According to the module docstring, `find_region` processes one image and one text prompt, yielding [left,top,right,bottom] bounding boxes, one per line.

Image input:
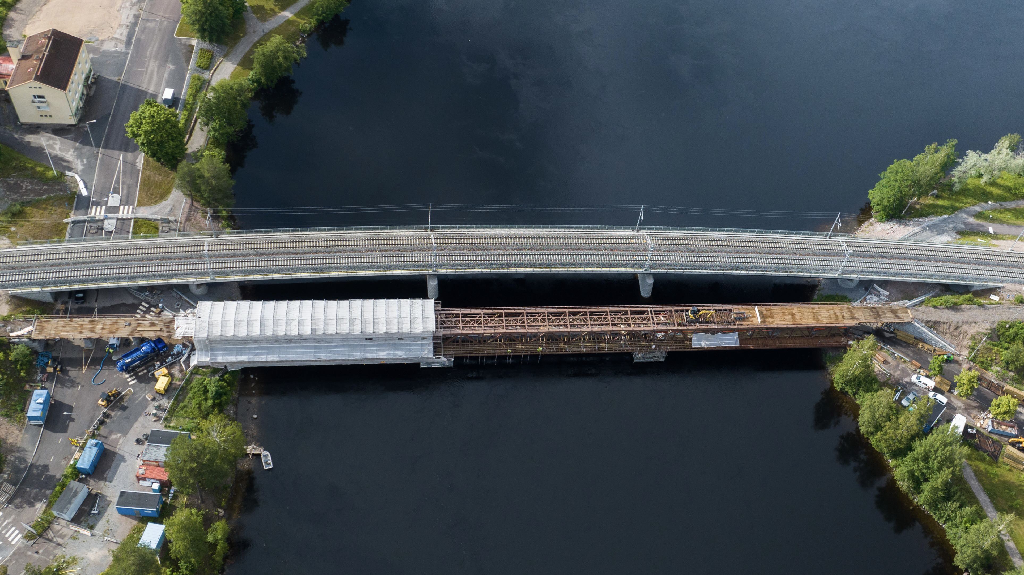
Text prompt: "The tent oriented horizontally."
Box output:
[194,297,435,369]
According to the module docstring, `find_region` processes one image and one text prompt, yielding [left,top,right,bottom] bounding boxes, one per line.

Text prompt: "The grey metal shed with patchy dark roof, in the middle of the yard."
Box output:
[51,479,88,521]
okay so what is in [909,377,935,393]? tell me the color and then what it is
white vehicle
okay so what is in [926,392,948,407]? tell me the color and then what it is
white car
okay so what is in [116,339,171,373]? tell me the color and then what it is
blue truck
